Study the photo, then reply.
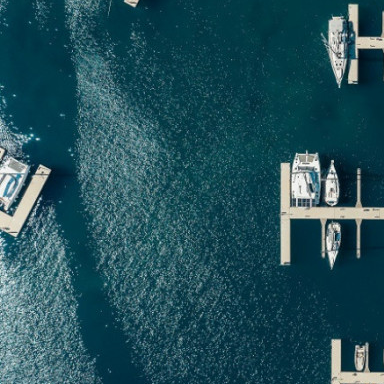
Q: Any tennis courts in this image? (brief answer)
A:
No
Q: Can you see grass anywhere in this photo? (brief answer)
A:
No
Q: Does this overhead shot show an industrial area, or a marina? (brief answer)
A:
marina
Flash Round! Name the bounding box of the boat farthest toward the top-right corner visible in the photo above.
[321,15,351,89]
